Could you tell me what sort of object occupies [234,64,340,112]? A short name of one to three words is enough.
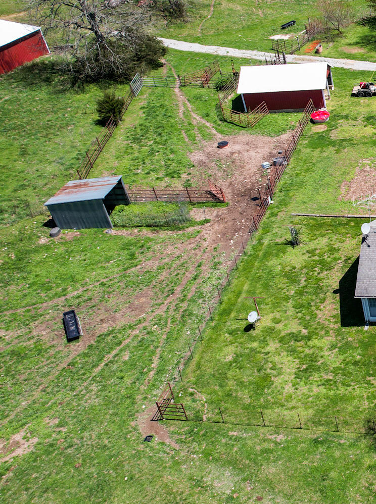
barn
